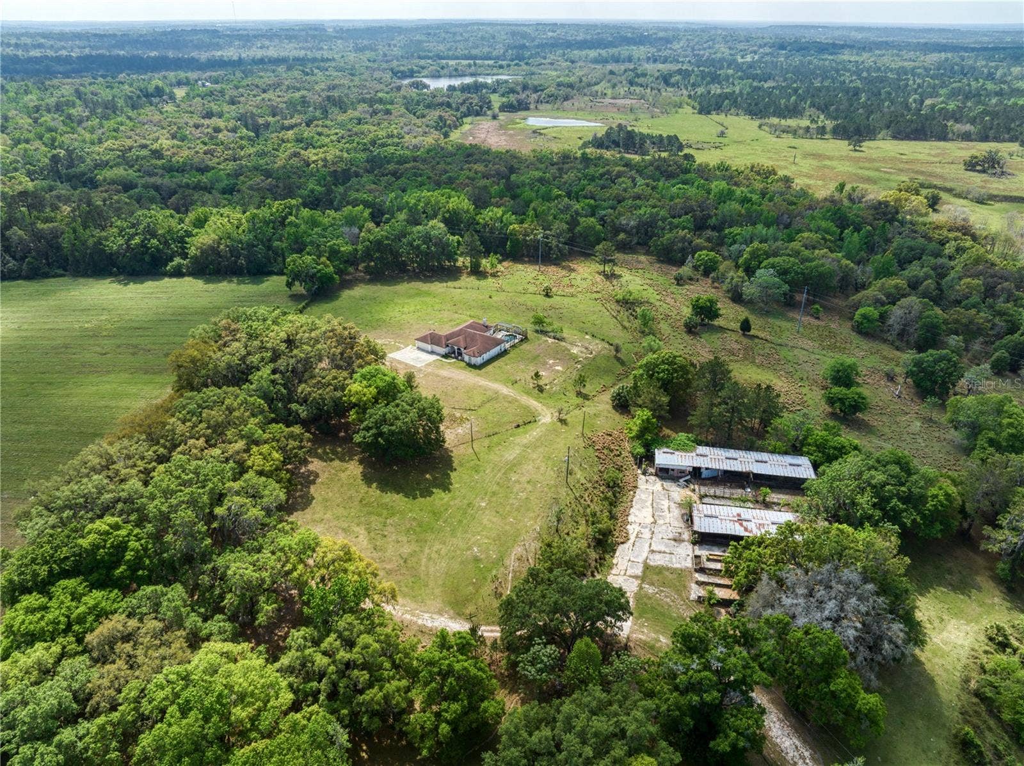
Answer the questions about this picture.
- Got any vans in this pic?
No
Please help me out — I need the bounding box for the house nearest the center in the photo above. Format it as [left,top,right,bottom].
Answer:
[412,319,508,366]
